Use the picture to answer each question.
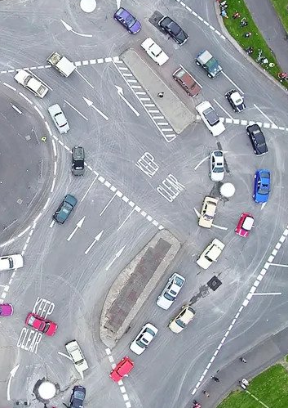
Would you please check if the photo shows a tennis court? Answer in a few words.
No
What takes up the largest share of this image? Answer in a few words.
paved ground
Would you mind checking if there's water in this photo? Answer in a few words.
No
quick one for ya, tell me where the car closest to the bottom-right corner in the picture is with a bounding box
[167,305,195,333]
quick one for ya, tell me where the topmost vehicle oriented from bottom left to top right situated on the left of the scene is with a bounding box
[51,193,78,226]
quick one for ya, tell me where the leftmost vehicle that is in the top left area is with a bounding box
[13,69,49,100]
